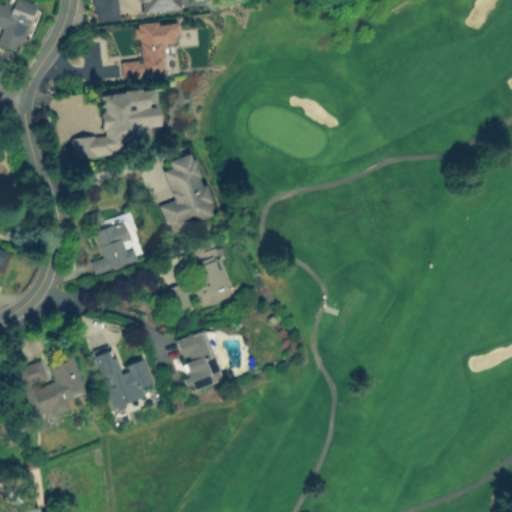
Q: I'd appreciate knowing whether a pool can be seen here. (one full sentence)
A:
Yes, there's a pool here.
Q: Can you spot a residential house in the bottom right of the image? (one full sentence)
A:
No, I see no residential house in the bottom right of the image.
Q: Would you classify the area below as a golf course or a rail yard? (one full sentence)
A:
It's a golf course.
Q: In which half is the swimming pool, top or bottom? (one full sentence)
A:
Seen from above, the swimming pool lies in the bottom half of the view.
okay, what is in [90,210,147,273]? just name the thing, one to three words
house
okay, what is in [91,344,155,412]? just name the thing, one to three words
house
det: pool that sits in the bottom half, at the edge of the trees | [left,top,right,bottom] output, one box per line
[207,330,250,376]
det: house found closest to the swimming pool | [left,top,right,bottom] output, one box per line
[176,330,224,390]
